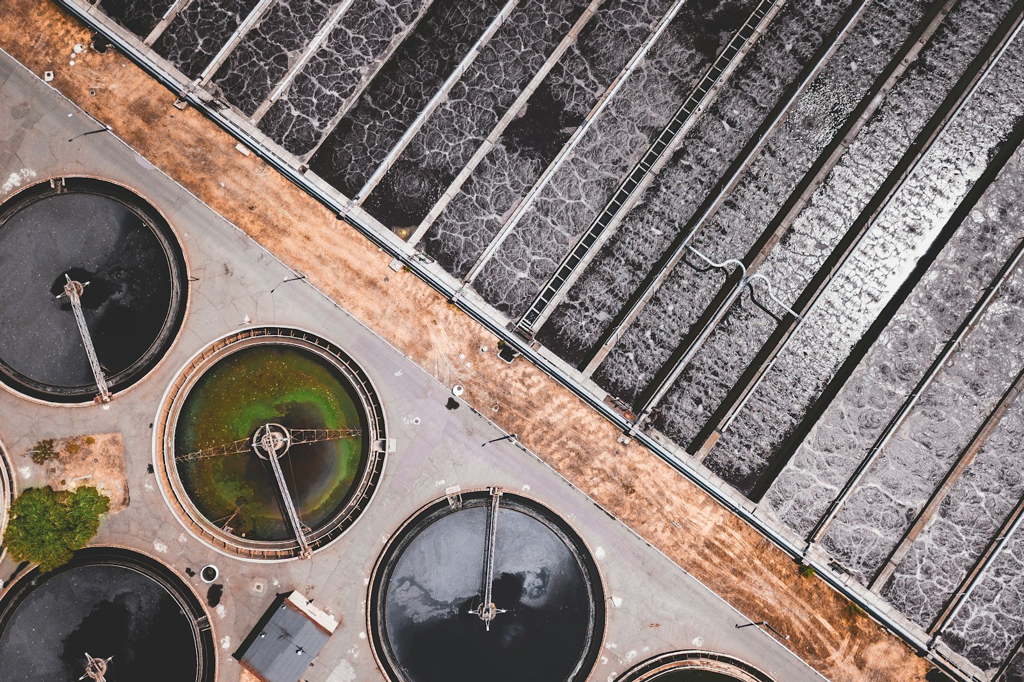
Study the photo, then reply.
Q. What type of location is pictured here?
industrial area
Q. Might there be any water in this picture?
Yes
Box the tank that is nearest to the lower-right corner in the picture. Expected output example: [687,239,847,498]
[613,648,776,682]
